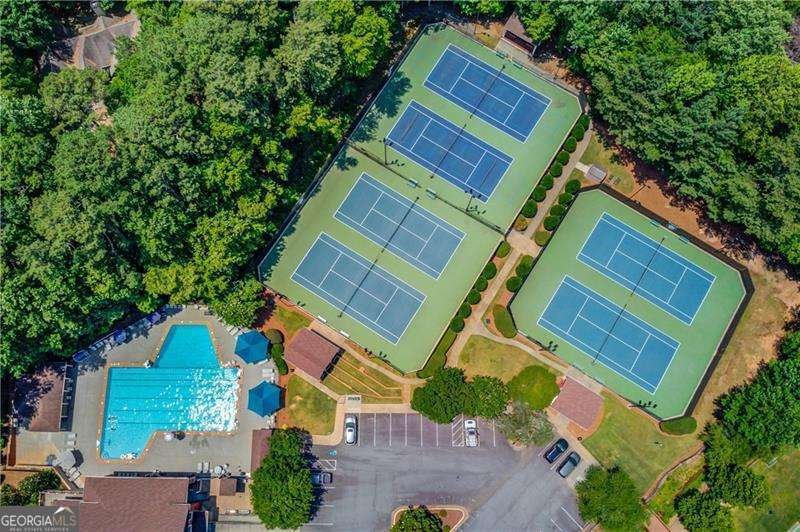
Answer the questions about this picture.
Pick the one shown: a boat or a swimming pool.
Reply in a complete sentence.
Looking from above, you can make out a swimming pool.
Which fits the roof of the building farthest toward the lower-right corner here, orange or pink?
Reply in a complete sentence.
The color of the roof of the building farthest toward the lower-right corner is pink.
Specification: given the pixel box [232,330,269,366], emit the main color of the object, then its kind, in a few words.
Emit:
blue umbrella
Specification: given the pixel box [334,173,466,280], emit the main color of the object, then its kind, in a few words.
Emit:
blue tennis court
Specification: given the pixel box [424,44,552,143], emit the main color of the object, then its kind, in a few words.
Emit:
blue tennis court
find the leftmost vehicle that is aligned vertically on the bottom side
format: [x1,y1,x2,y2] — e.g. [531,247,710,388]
[344,416,357,445]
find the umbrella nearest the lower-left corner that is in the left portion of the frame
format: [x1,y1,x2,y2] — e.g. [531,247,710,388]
[52,452,73,472]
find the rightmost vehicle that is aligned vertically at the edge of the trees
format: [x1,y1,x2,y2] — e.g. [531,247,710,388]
[464,418,477,449]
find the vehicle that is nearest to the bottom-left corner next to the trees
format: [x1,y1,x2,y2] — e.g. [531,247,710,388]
[307,473,334,486]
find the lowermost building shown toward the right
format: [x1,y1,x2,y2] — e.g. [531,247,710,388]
[552,377,604,430]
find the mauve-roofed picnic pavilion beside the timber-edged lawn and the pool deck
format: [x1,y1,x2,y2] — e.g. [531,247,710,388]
[285,329,341,374]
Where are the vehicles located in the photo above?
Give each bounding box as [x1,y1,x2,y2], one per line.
[464,418,477,449]
[307,473,334,486]
[545,438,570,466]
[557,452,583,480]
[344,416,357,445]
